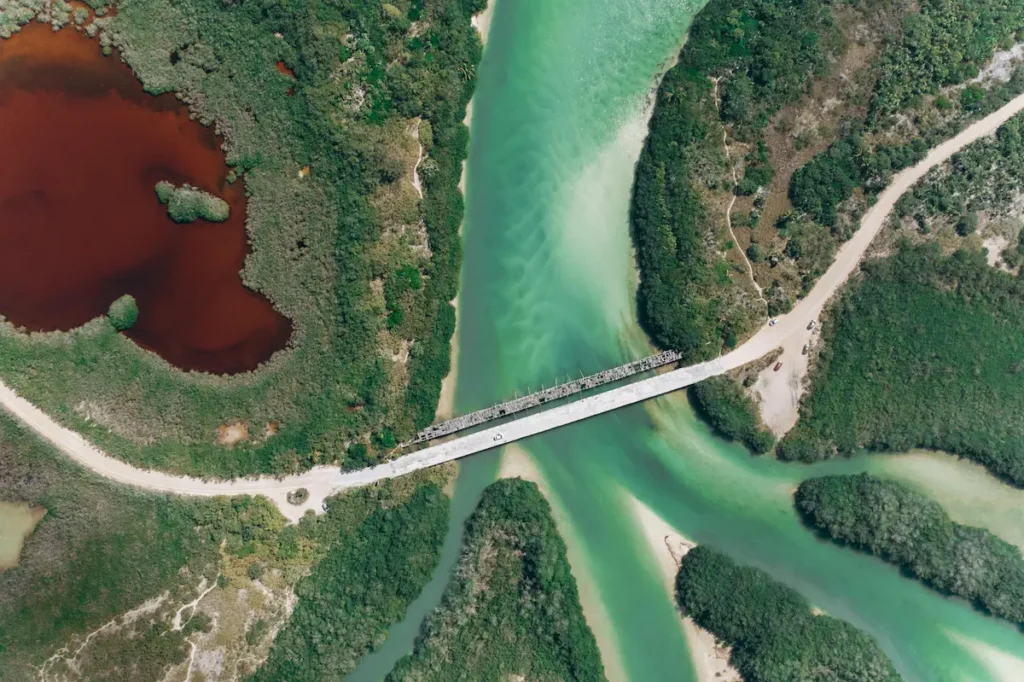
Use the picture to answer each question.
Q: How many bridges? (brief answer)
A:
1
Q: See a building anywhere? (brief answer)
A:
No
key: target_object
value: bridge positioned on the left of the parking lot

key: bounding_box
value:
[380,361,713,482]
